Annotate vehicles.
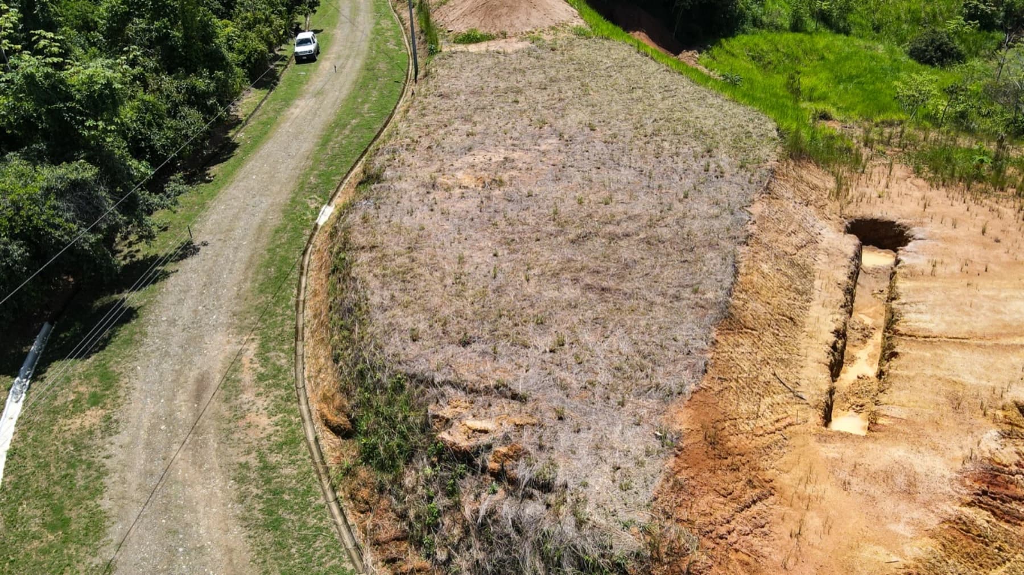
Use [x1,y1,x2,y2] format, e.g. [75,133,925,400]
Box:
[290,26,321,60]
